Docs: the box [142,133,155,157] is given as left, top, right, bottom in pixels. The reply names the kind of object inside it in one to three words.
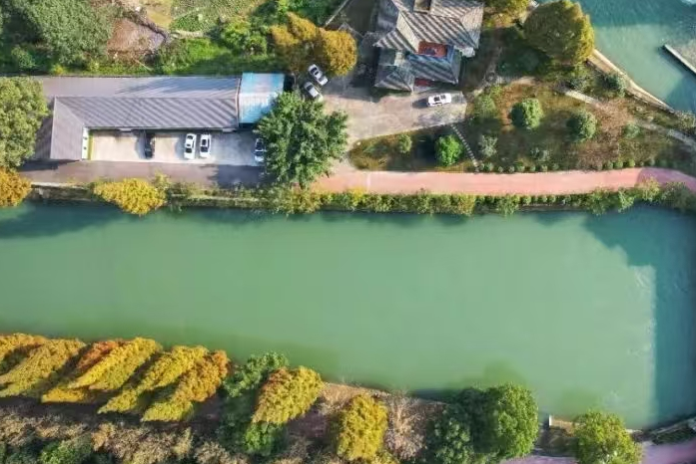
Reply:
vehicle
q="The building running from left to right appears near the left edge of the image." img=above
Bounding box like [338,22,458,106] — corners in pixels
[0,75,241,160]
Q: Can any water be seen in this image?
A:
Yes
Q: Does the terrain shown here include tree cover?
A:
Yes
